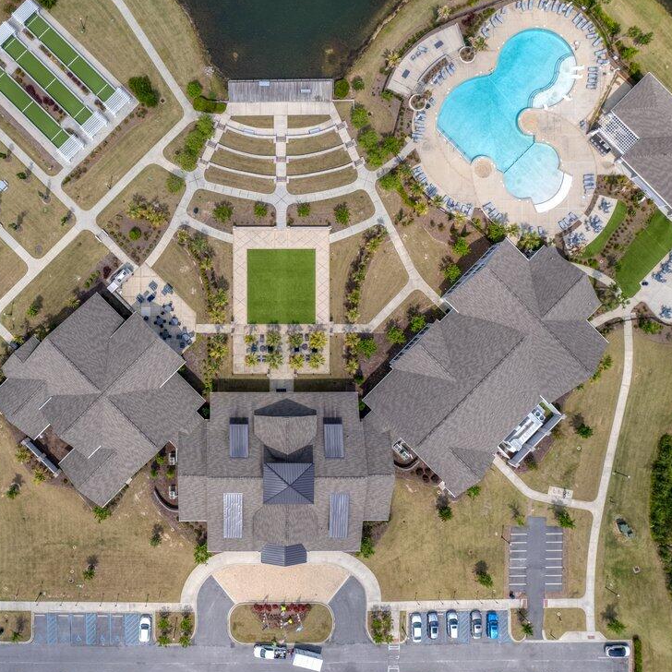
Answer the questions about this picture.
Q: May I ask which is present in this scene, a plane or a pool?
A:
pool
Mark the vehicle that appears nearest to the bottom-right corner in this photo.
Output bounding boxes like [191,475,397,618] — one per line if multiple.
[604,643,629,657]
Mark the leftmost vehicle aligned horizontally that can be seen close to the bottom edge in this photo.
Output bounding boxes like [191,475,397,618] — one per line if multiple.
[254,645,287,660]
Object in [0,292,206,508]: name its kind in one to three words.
building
